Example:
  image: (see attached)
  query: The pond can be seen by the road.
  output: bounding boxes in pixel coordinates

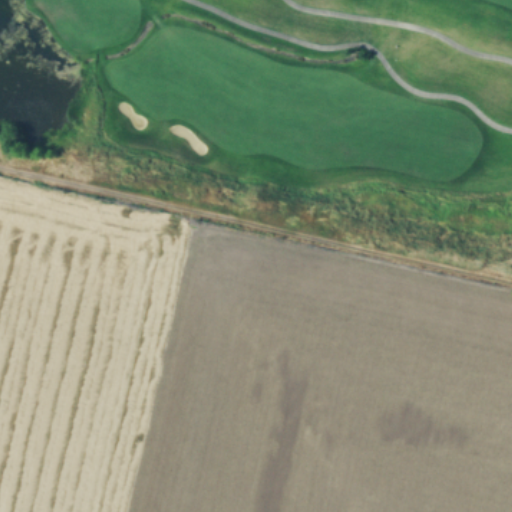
[0,0,84,153]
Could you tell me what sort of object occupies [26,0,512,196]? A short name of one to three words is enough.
golf course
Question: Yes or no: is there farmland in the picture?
Yes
